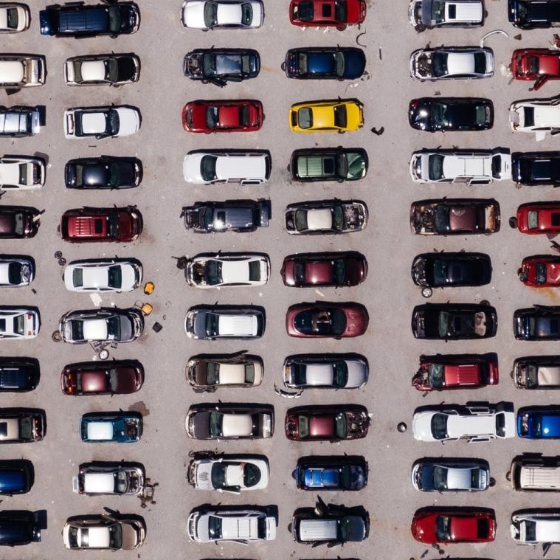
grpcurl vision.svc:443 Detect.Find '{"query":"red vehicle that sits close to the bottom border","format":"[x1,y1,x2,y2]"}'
[412,510,495,547]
